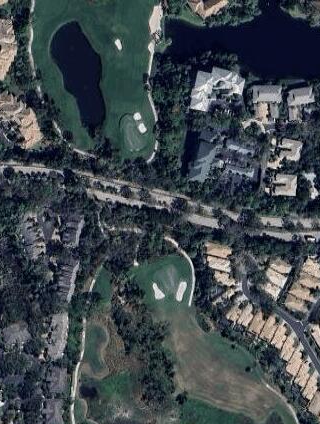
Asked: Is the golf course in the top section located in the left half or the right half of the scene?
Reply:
left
